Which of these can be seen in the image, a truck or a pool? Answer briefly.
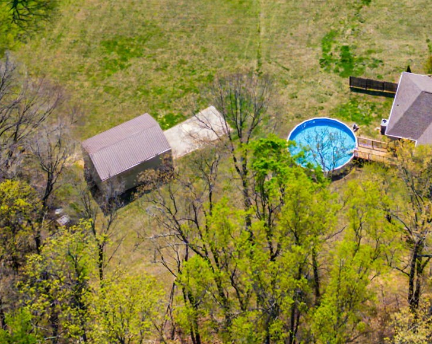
pool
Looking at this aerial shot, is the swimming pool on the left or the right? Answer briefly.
right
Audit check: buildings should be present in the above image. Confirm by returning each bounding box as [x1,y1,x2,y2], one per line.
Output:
[385,69,432,172]
[83,114,173,198]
